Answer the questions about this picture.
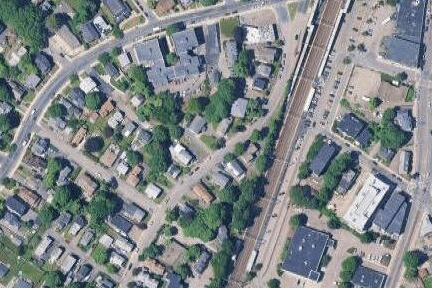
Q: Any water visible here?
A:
No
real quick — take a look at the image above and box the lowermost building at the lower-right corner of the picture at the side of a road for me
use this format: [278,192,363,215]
[352,266,388,288]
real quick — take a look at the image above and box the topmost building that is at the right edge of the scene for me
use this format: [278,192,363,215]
[394,0,427,44]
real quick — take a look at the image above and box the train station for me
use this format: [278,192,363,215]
[287,0,351,121]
